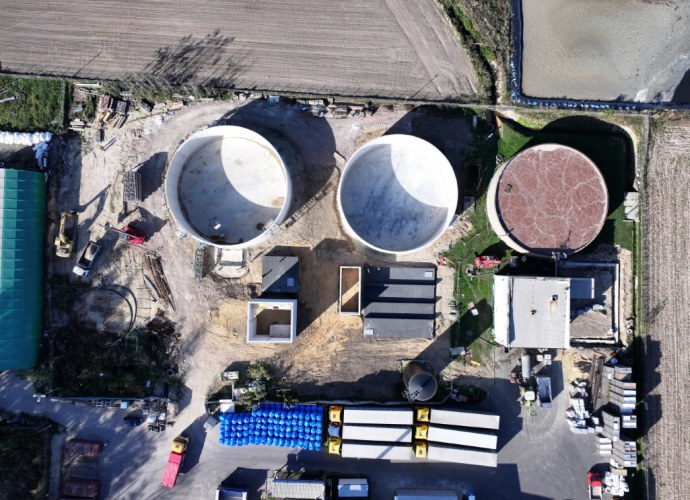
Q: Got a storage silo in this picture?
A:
Yes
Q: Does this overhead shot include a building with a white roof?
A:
Yes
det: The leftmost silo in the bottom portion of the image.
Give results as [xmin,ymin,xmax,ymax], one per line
[400,358,437,402]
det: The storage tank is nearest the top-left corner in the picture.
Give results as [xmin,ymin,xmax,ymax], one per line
[166,125,293,247]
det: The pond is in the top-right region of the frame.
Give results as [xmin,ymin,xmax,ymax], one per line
[511,0,690,111]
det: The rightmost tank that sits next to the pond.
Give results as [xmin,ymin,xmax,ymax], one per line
[487,144,608,256]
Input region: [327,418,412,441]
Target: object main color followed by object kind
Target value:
white truck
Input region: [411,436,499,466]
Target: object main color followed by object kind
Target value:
white truck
